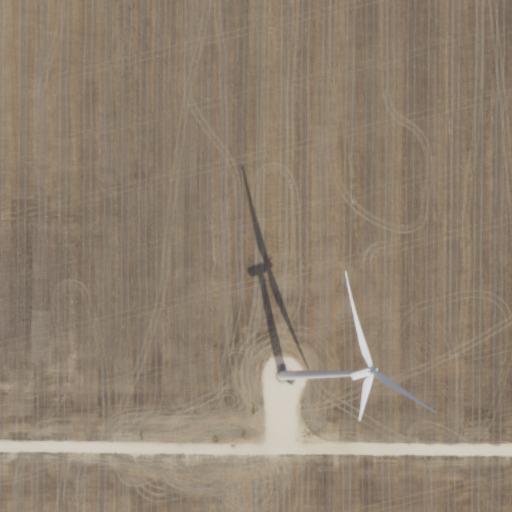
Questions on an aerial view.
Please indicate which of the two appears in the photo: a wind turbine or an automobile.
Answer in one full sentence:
Looking from above, you can make out a wind turbine.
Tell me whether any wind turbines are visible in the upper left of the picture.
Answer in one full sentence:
No, in the upper left of the picture there is no wind turbine.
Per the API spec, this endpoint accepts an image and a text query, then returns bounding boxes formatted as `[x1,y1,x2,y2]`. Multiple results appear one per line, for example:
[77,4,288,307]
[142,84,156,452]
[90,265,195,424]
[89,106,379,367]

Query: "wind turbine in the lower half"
[277,270,434,420]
